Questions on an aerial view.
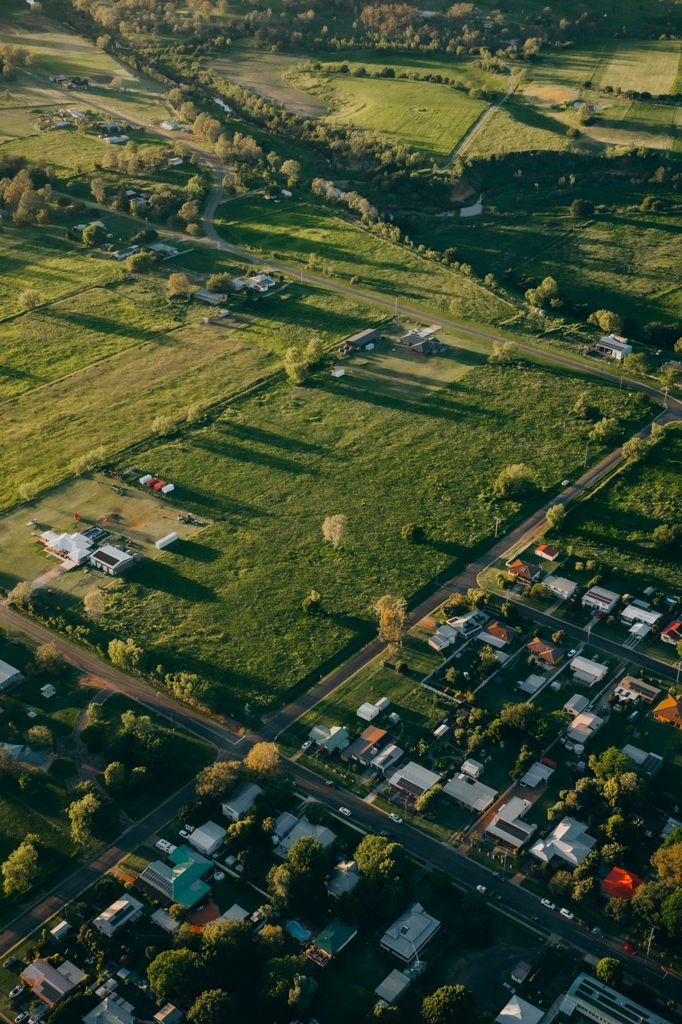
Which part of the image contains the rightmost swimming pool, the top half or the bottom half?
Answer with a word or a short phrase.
bottom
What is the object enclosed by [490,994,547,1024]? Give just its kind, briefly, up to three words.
house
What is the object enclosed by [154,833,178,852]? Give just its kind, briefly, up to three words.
camper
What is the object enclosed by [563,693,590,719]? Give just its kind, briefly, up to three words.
shed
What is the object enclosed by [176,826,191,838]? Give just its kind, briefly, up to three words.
vehicle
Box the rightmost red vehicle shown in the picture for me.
[622,942,640,955]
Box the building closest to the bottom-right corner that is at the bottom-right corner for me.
[565,972,673,1024]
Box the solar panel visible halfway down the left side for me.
[93,549,120,566]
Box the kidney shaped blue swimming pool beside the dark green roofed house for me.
[284,919,312,941]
